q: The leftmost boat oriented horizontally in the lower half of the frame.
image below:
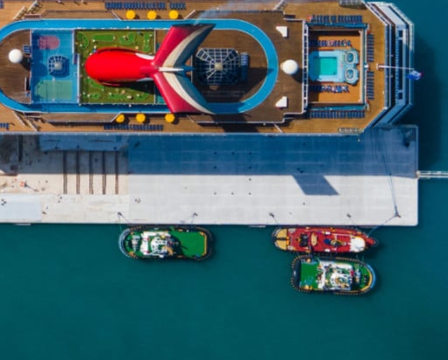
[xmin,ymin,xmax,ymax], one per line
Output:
[118,226,213,262]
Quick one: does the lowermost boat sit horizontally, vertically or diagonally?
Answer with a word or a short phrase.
horizontally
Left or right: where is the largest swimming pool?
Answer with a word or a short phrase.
right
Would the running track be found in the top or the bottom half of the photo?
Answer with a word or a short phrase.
top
